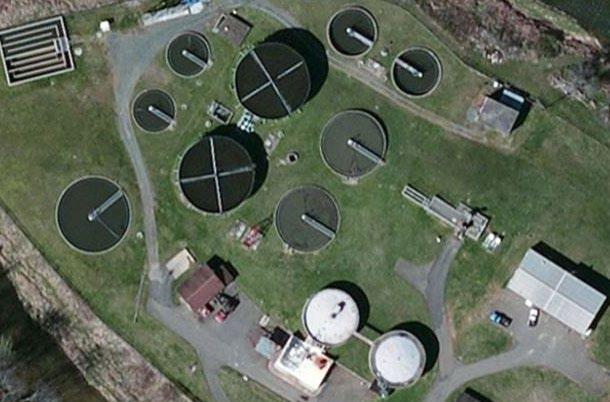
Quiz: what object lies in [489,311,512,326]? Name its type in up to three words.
vehicle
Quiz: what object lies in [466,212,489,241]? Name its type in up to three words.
house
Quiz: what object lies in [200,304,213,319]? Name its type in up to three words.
vehicle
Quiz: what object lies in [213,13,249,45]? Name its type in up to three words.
shed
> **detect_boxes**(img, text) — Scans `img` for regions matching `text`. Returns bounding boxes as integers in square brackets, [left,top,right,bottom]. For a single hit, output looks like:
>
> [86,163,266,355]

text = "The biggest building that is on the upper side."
[476,97,519,133]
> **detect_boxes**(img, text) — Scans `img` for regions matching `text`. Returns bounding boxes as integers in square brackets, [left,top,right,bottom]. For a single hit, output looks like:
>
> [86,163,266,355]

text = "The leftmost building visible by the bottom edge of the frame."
[273,336,333,390]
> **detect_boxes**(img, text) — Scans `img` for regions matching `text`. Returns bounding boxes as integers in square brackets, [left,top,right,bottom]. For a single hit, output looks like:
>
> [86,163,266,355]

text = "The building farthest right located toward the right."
[506,248,606,335]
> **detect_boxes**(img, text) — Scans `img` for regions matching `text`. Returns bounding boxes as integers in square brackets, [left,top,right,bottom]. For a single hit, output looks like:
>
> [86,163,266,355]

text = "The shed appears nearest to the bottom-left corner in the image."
[178,265,224,313]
